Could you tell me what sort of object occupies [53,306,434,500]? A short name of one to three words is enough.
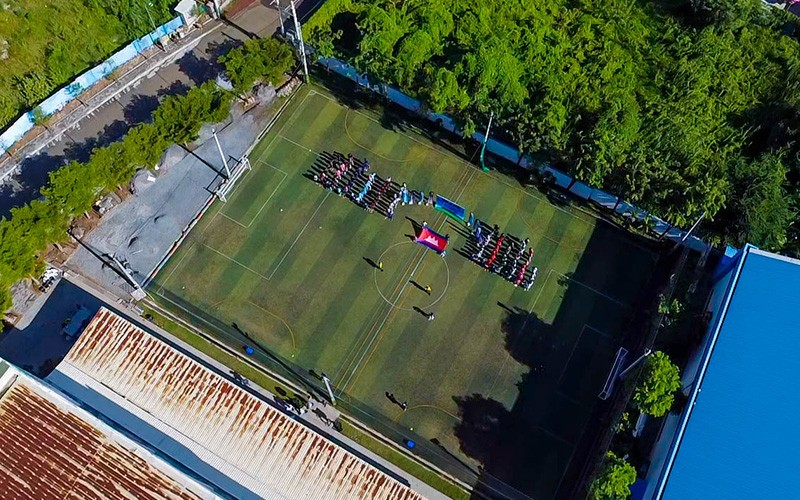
shed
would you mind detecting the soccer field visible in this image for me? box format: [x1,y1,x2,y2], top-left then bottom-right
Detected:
[145,81,677,500]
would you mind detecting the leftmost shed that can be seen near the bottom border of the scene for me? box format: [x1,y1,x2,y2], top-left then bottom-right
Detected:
[0,363,238,500]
